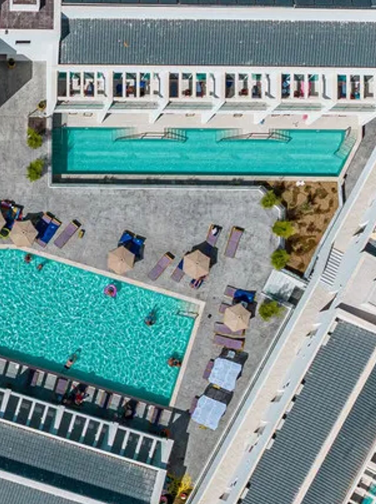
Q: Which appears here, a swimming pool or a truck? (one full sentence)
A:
There is a swimming pool in the scene.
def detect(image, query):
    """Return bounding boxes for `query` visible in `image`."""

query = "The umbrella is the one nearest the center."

[181,249,210,280]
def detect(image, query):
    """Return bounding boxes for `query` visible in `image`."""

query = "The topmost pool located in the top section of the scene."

[47,122,362,181]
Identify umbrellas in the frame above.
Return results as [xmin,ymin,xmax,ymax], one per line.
[106,246,136,276]
[222,303,251,333]
[205,355,243,393]
[9,218,37,249]
[190,393,228,431]
[181,249,210,280]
